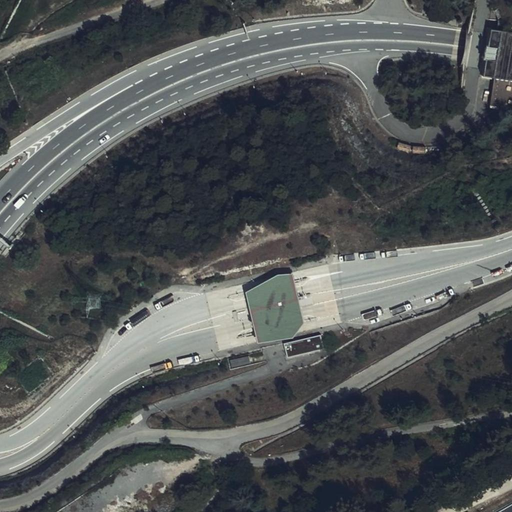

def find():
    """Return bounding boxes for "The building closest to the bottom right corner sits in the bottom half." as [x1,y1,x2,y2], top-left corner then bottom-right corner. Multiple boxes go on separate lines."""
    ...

[284,334,323,358]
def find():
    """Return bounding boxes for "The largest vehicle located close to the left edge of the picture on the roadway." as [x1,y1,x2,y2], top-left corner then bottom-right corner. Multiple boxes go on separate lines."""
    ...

[12,194,29,210]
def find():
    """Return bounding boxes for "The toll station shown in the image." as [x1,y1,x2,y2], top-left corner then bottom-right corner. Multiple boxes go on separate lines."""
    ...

[203,265,342,352]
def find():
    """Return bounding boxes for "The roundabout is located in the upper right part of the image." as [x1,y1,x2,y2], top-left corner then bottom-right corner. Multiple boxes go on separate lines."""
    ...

[320,57,460,148]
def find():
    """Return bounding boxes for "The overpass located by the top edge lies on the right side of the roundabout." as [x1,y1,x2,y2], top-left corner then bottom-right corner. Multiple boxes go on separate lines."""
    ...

[463,8,490,88]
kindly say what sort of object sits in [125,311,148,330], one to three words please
vehicle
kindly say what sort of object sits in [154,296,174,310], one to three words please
vehicle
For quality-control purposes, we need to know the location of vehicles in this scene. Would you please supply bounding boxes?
[425,297,436,302]
[370,318,380,324]
[118,327,127,335]
[127,414,143,426]
[389,304,412,316]
[154,296,174,310]
[484,90,489,102]
[414,146,435,155]
[338,255,356,263]
[480,268,504,277]
[434,290,455,300]
[380,252,398,259]
[150,362,172,372]
[98,135,110,143]
[361,310,382,320]
[125,311,148,330]
[2,193,12,202]
[359,253,376,262]
[178,356,200,366]
[12,194,29,210]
